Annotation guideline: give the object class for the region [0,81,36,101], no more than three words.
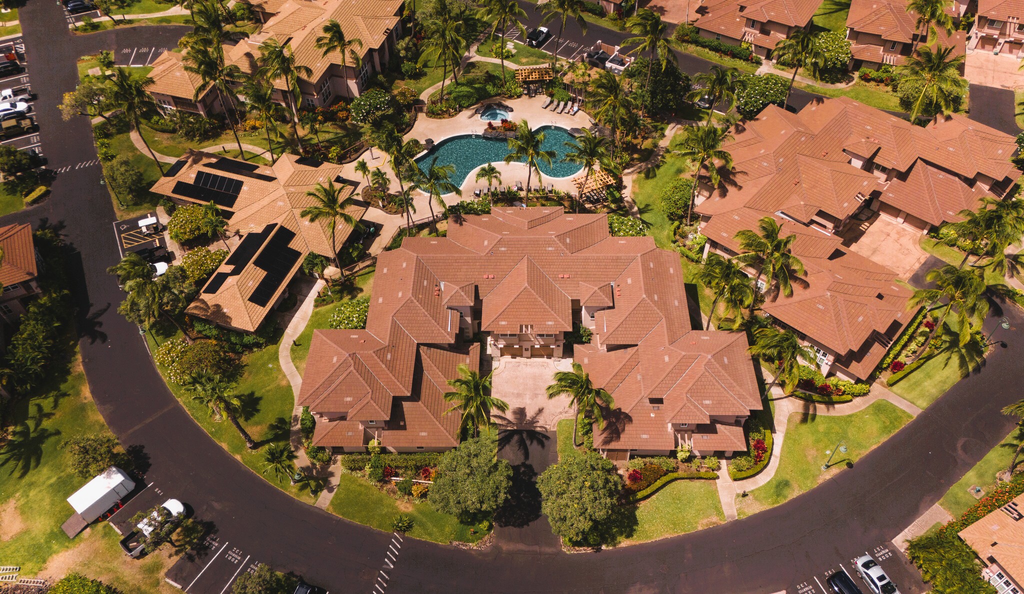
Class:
vehicle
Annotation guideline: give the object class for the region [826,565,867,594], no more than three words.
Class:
car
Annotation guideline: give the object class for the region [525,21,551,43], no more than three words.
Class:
car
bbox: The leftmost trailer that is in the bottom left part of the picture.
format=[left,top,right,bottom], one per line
[56,466,141,545]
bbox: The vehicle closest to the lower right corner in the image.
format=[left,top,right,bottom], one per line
[857,549,906,594]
